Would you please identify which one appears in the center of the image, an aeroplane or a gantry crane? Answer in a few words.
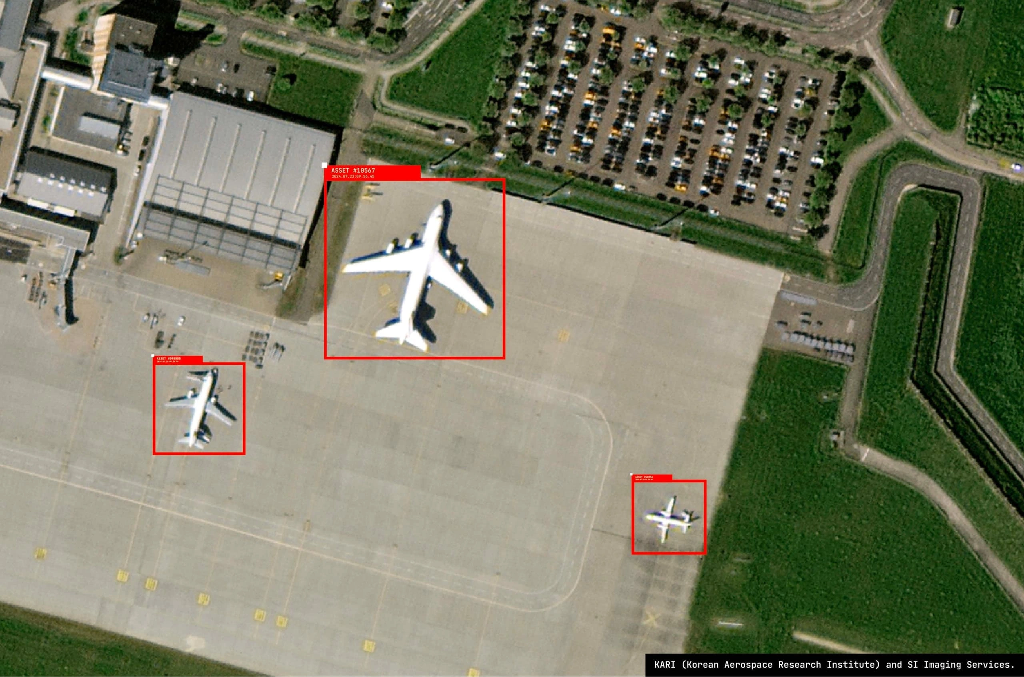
aeroplane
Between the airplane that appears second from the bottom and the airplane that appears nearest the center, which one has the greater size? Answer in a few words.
the airplane that appears nearest the center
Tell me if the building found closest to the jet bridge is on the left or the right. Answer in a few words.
left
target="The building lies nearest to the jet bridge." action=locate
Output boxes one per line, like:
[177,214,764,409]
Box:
[0,209,89,251]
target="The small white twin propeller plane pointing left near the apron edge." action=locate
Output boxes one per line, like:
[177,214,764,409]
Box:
[646,497,691,544]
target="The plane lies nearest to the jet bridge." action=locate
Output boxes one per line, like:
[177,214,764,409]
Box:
[165,371,233,449]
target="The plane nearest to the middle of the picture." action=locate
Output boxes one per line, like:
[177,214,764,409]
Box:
[346,204,488,354]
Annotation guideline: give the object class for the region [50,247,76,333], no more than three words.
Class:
jet bridge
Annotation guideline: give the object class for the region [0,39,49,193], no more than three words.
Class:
building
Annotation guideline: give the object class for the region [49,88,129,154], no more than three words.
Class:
building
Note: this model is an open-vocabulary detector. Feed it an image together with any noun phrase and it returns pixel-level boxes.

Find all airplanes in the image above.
[646,497,691,544]
[165,371,233,449]
[346,204,488,354]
